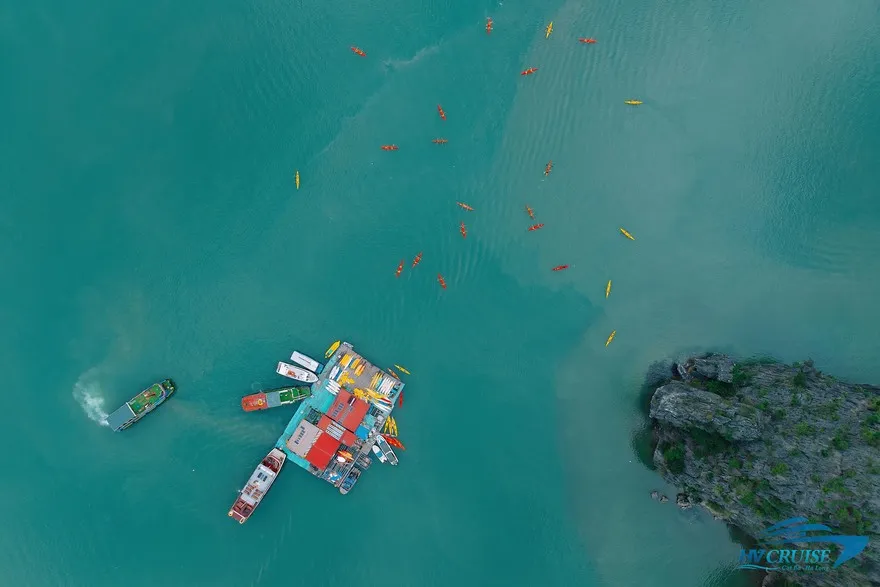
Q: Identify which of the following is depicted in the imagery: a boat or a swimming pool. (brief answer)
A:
boat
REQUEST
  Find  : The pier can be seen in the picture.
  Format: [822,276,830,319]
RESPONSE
[277,344,406,486]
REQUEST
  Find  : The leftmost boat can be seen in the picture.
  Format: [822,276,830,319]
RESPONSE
[104,381,172,431]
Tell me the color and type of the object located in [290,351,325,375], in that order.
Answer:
white boat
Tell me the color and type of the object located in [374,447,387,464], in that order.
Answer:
white boat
